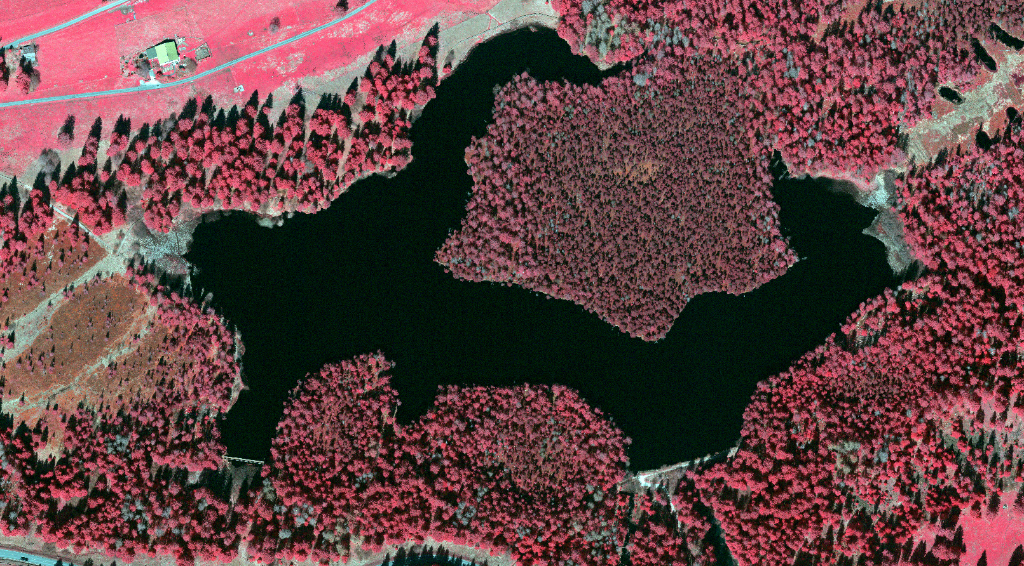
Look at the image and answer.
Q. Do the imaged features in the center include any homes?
No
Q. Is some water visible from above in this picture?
Yes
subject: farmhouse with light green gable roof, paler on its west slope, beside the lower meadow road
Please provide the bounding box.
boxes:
[154,41,178,66]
